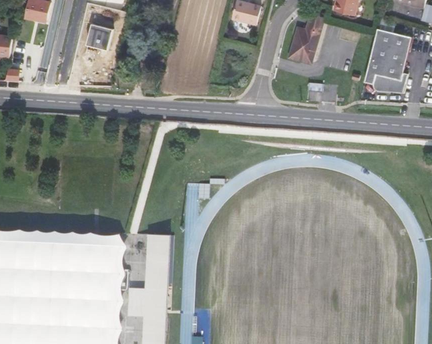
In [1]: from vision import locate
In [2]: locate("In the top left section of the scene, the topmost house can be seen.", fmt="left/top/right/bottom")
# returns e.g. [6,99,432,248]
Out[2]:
[24,0,52,24]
